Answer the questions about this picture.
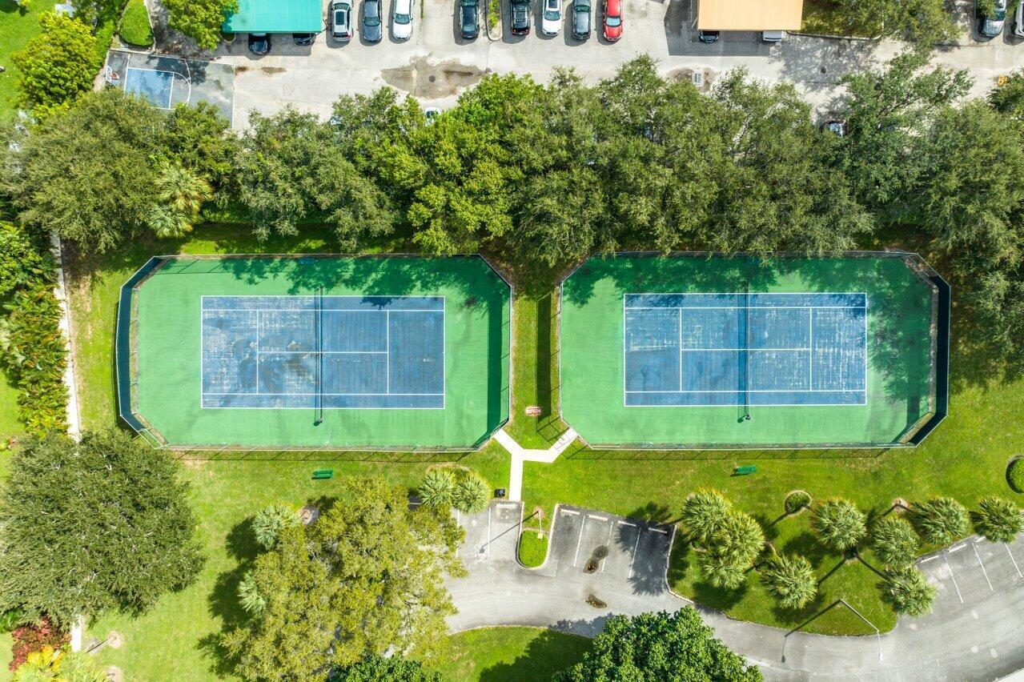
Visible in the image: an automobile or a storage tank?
automobile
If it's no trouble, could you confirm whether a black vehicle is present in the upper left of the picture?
Yes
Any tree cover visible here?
Yes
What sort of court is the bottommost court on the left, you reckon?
tennis court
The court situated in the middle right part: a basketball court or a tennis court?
tennis court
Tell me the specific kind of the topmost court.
basketball court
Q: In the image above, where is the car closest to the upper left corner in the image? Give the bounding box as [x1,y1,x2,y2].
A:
[244,33,269,57]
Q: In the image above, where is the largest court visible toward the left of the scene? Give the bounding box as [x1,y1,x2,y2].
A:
[135,258,510,446]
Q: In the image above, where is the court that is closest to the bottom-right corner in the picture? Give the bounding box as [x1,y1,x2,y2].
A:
[559,258,930,445]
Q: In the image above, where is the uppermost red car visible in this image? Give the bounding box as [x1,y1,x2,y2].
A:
[602,0,625,42]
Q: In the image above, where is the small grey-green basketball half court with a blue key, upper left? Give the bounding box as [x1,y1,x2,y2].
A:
[104,51,234,138]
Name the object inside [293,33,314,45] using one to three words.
vehicle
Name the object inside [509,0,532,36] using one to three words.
car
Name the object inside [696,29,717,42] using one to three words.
vehicle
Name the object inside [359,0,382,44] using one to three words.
car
